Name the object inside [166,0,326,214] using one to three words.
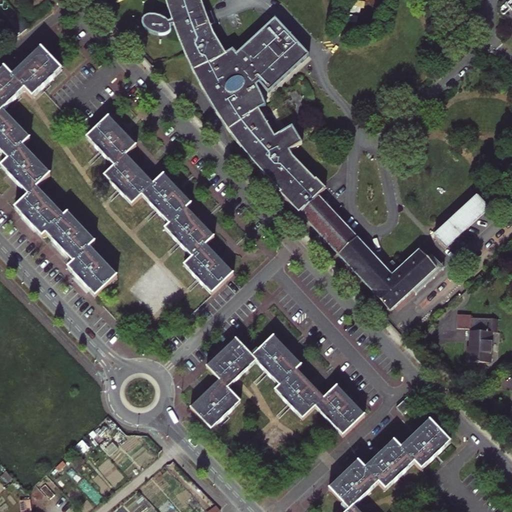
building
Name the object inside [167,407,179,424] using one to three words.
vehicle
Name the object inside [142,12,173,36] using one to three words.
building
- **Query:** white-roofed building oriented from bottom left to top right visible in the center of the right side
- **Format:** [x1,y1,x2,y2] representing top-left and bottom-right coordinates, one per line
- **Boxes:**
[434,194,486,248]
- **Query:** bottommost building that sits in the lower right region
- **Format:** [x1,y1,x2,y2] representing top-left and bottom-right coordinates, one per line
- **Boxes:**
[328,417,450,512]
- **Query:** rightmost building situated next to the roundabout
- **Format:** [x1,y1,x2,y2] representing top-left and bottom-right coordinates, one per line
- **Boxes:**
[192,333,365,436]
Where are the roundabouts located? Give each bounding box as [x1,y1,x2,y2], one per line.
[106,358,174,428]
